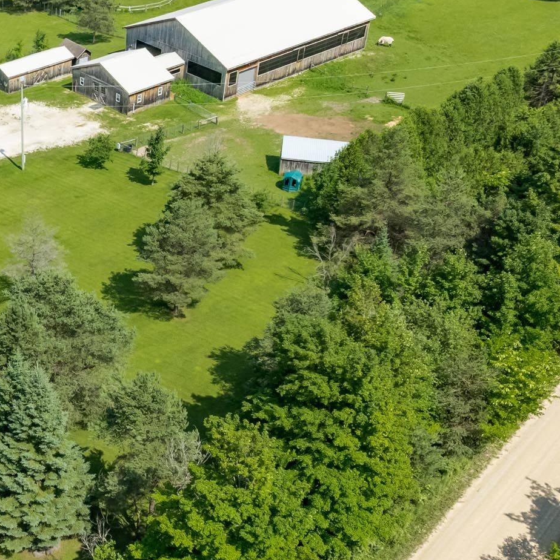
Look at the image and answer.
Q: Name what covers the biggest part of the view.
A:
trees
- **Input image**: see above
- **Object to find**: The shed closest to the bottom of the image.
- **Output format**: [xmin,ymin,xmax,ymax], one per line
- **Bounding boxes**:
[279,133,359,179]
